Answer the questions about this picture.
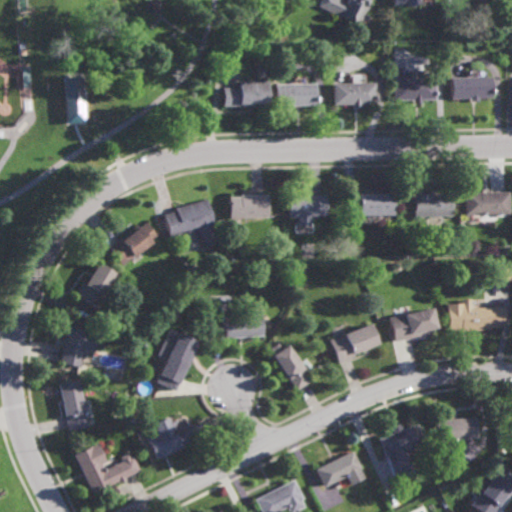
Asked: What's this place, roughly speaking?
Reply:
residential area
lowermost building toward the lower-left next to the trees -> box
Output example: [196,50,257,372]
[75,446,140,492]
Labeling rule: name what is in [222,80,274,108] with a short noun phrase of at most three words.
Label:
house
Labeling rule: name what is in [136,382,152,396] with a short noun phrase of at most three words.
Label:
swimming pool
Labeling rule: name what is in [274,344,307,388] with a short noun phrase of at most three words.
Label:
house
